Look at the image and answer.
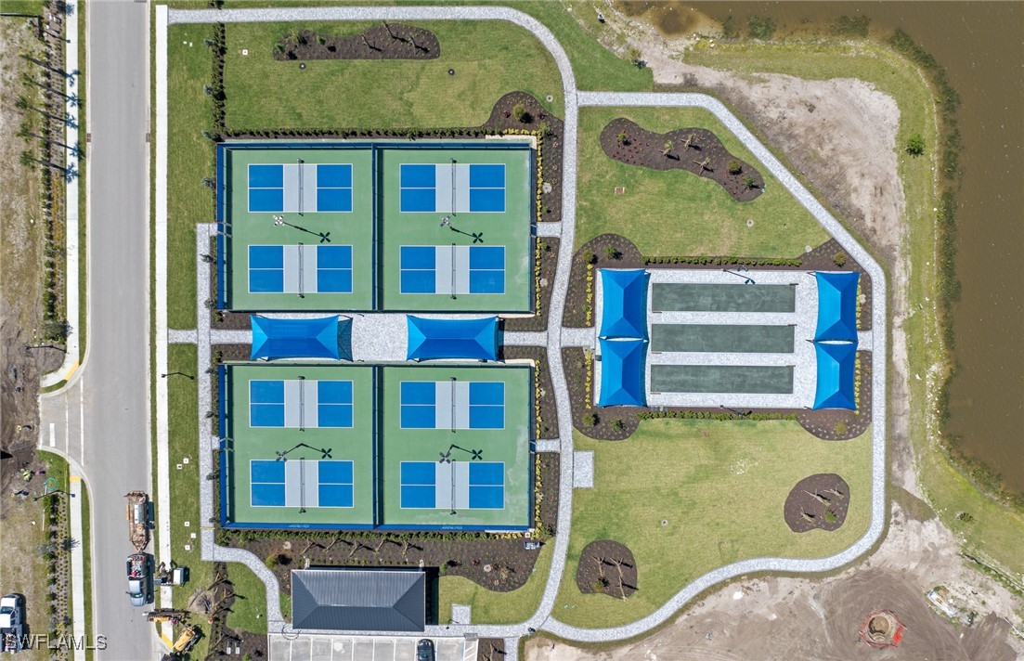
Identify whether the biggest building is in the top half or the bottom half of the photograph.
bottom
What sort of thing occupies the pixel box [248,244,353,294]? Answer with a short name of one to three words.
sports court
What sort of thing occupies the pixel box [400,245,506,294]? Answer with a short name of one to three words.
sports court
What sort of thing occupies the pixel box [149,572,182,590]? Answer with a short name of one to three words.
work vehicle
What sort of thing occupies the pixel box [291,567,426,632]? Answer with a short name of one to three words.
building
